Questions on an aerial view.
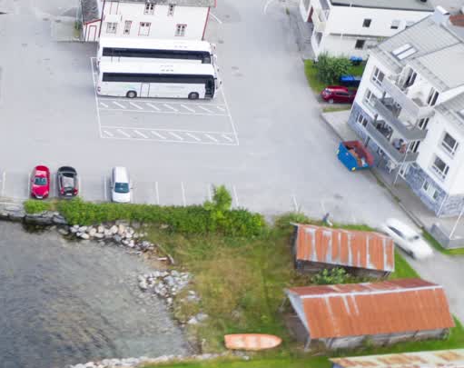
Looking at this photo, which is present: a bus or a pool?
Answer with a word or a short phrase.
bus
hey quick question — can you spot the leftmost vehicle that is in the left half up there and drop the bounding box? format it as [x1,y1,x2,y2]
[27,165,52,198]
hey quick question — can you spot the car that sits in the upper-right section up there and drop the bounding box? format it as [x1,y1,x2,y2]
[318,83,360,103]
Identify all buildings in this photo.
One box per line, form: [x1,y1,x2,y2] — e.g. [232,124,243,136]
[328,351,464,368]
[78,0,216,45]
[288,221,397,277]
[278,278,462,353]
[348,11,464,216]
